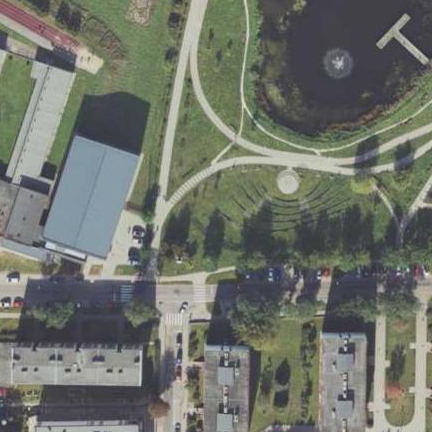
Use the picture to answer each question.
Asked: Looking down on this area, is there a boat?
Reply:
No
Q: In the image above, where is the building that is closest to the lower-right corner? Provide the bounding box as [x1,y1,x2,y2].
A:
[315,330,367,432]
